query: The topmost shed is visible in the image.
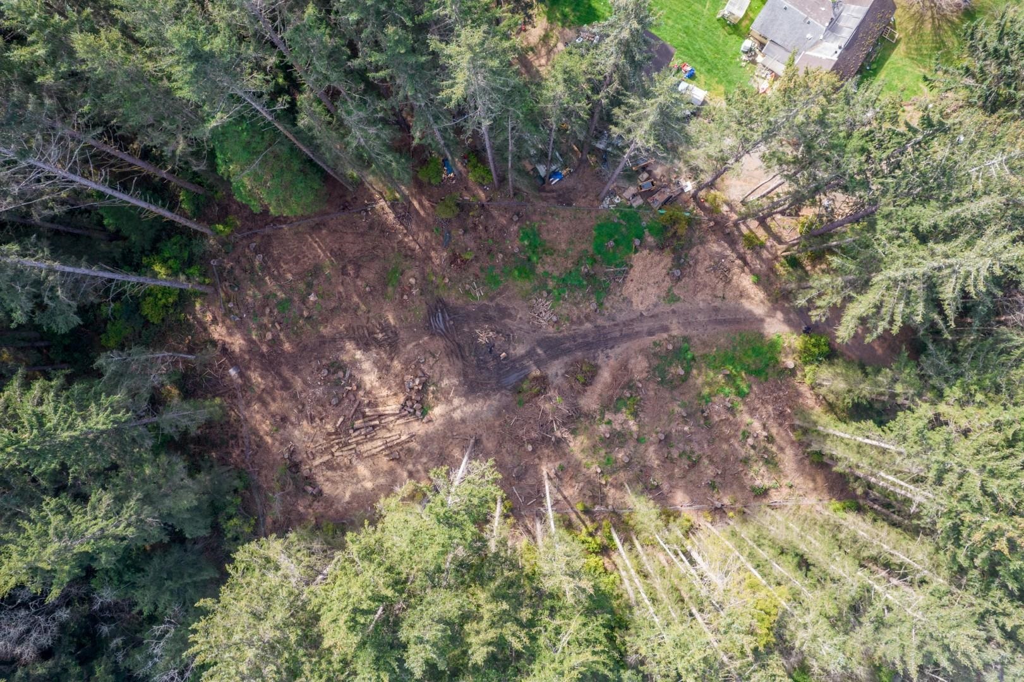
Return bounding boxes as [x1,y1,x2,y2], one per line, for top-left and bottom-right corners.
[724,0,760,32]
